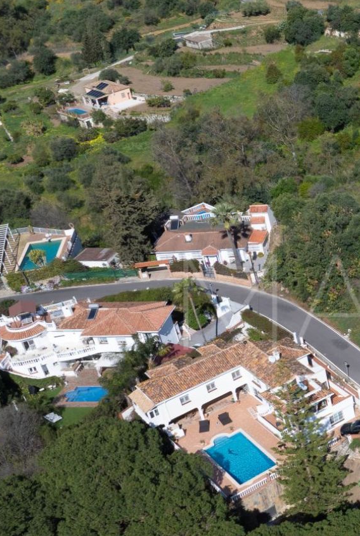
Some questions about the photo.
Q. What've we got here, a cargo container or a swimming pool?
swimming pool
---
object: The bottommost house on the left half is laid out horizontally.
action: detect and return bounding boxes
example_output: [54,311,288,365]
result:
[0,296,183,381]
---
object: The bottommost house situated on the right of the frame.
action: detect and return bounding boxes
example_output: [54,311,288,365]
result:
[128,319,355,440]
